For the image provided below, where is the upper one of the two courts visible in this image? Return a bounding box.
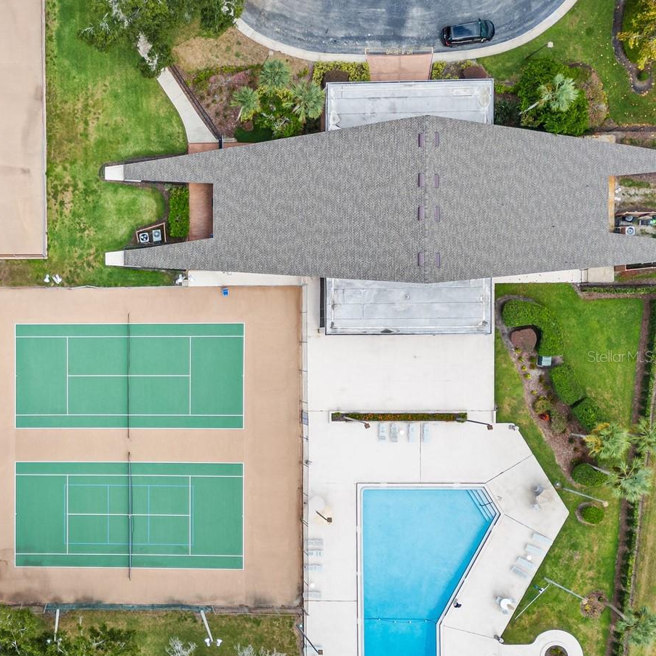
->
[14,313,246,439]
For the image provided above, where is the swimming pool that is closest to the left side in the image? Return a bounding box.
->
[358,483,503,656]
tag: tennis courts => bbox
[14,313,246,439]
[13,452,246,580]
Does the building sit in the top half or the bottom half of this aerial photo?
top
